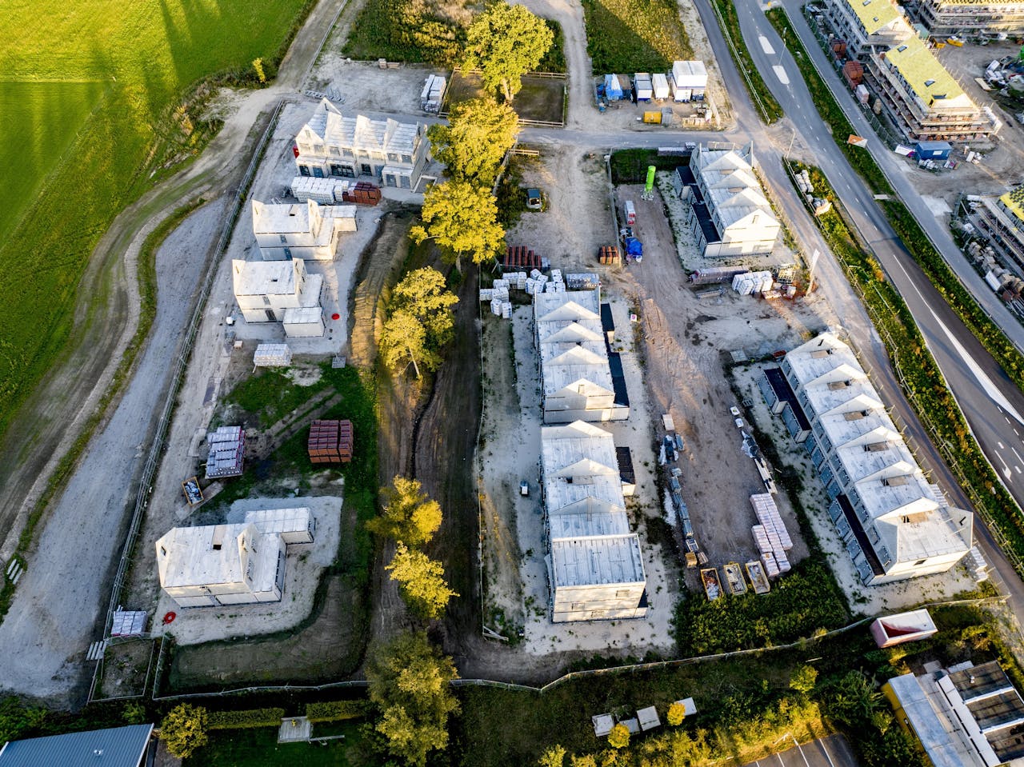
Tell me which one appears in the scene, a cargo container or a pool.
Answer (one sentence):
Visible in the photo is a cargo container.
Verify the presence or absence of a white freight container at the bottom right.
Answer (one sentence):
Yes, at the bottom right there is a white freight container.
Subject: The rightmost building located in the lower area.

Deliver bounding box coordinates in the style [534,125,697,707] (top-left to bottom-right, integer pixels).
[877,662,1024,767]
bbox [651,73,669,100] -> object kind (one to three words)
building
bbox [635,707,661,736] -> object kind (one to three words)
shed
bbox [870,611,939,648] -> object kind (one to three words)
shipping container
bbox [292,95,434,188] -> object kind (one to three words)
house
